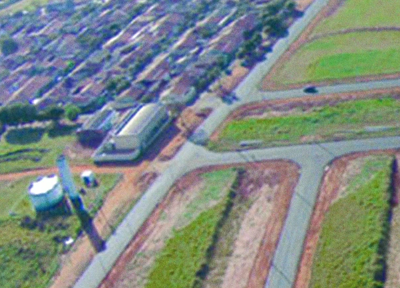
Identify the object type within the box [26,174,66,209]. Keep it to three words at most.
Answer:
water tank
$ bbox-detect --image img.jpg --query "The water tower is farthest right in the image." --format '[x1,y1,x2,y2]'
[57,147,87,212]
